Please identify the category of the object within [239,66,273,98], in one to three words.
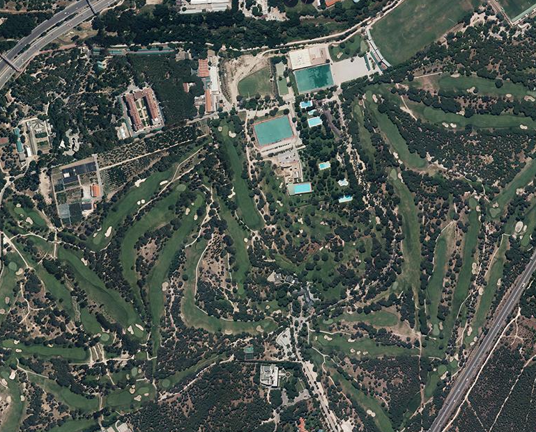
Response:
sports field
